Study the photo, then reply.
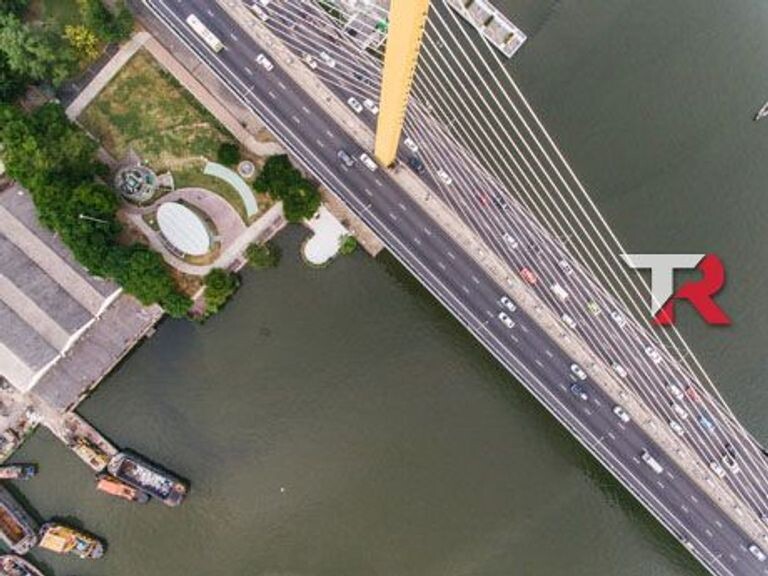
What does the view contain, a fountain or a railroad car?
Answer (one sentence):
The one in the frame is a fountain.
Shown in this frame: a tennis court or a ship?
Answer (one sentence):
It is a ship that can be seen here.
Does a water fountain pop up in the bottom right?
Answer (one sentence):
No, there is no water fountain in the bottom right.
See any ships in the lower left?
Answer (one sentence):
Yes, a ship appears in the lower left.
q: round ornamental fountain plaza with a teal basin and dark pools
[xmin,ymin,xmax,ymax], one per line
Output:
[115,164,157,206]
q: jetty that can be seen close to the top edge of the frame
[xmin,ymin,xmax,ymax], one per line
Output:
[445,0,527,58]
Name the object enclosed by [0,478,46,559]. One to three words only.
ship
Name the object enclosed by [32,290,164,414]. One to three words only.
shed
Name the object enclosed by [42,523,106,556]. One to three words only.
boat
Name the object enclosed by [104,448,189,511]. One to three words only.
ship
